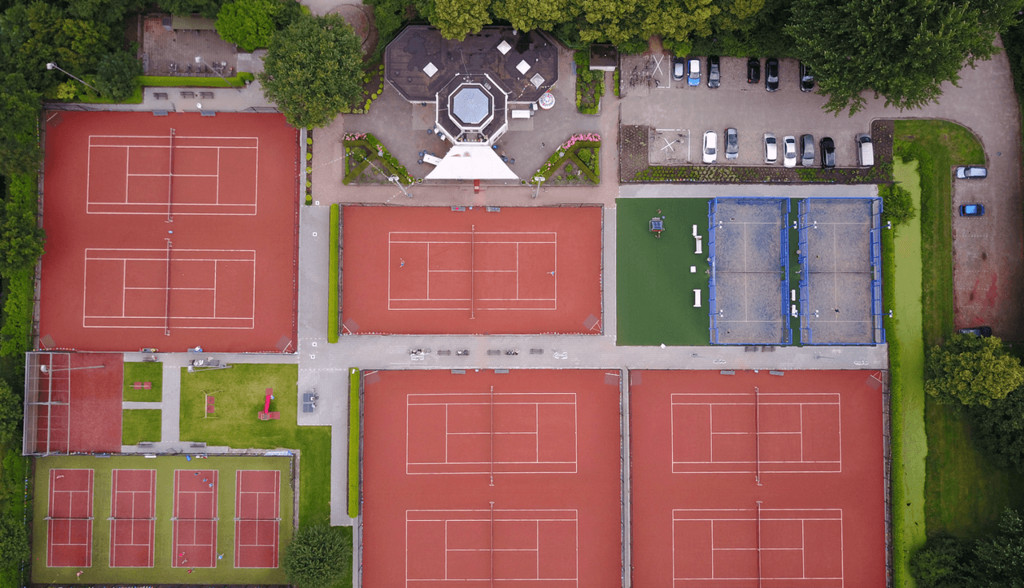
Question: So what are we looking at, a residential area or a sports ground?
sports ground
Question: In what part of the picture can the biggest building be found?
top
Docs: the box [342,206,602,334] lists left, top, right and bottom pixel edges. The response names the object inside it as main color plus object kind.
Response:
red tennis court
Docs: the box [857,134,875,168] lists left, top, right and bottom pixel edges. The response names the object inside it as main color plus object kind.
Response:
white vehicle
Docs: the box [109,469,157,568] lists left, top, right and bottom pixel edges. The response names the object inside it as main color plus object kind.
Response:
red tennis court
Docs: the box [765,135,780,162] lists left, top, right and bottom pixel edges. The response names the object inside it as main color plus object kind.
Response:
white car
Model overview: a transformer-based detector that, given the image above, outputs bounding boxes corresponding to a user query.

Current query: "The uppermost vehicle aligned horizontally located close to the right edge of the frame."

[956,164,990,179]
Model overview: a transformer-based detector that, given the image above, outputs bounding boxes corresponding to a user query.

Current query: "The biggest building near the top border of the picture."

[386,25,558,183]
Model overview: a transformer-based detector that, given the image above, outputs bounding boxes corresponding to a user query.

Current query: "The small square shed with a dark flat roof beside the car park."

[589,43,617,72]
